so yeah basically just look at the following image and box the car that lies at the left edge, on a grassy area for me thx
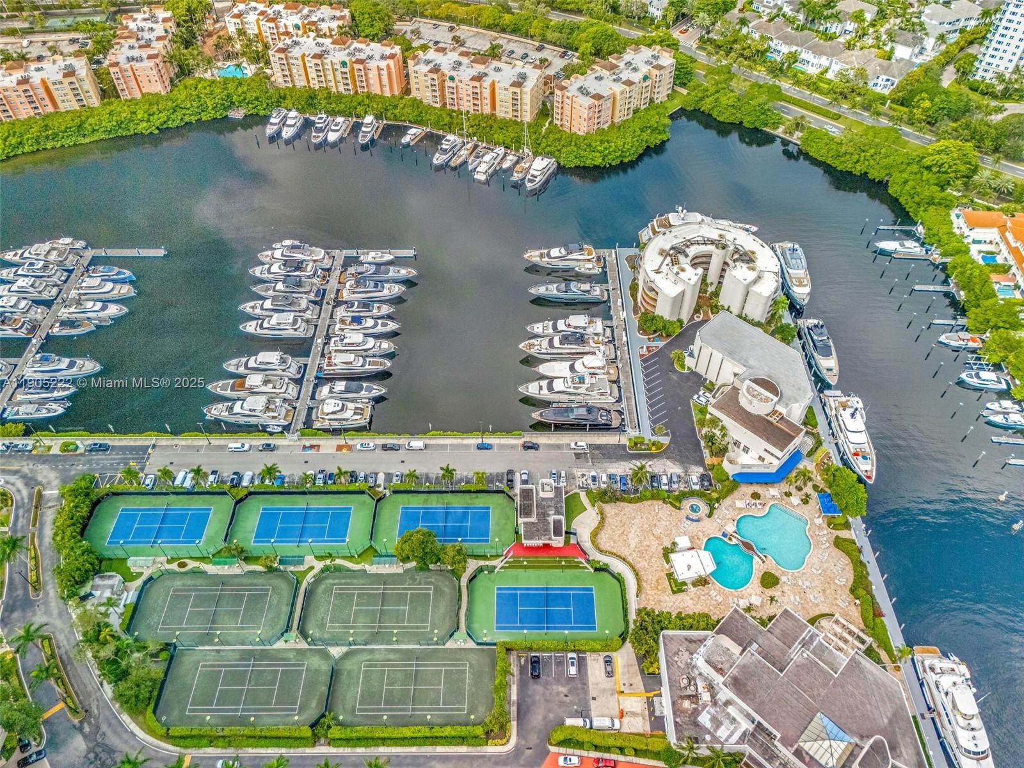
[14,732,31,758]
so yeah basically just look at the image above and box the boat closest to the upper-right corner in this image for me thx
[876,240,929,254]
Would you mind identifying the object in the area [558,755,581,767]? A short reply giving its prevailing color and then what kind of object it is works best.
white vehicle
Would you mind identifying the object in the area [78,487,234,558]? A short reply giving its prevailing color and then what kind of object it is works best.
green tennis court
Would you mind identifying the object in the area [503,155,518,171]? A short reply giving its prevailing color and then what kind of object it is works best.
white boat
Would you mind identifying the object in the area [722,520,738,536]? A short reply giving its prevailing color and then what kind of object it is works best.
white umbrella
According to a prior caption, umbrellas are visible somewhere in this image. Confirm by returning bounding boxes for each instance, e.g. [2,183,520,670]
[722,520,738,536]
[735,595,753,610]
[764,487,780,499]
[732,498,748,510]
[748,592,763,609]
[786,494,804,509]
